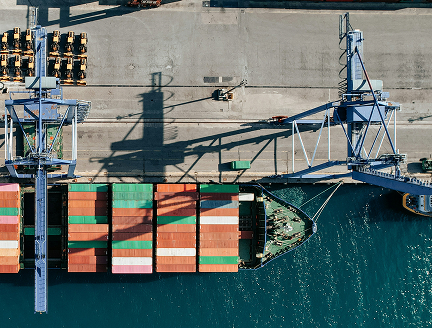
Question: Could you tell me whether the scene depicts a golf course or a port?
port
